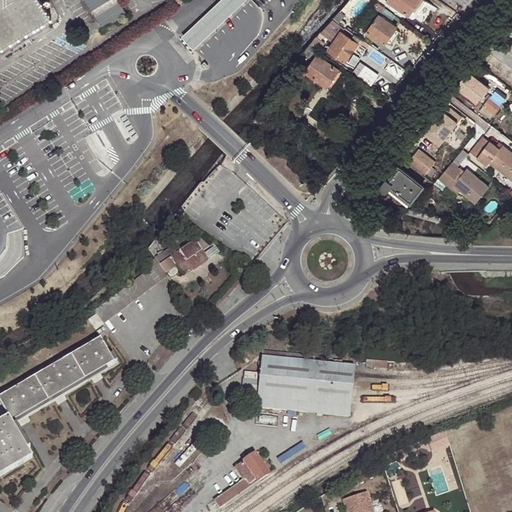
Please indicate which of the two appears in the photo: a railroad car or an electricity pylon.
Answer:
railroad car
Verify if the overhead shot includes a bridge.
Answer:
Yes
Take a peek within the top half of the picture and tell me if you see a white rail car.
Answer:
No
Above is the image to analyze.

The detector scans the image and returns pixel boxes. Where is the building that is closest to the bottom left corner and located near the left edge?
[0,412,34,475]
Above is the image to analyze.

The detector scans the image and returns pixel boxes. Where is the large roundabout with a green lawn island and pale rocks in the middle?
[285,218,371,304]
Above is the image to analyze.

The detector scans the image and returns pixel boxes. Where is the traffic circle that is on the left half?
[126,44,168,86]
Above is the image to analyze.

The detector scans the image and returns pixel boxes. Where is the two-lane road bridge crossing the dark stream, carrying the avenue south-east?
[206,121,246,157]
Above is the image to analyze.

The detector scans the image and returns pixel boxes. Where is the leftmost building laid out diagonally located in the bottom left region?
[0,335,120,426]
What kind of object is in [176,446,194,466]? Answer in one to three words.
rail car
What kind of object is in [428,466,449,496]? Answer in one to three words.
swimming pool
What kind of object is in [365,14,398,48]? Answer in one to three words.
house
